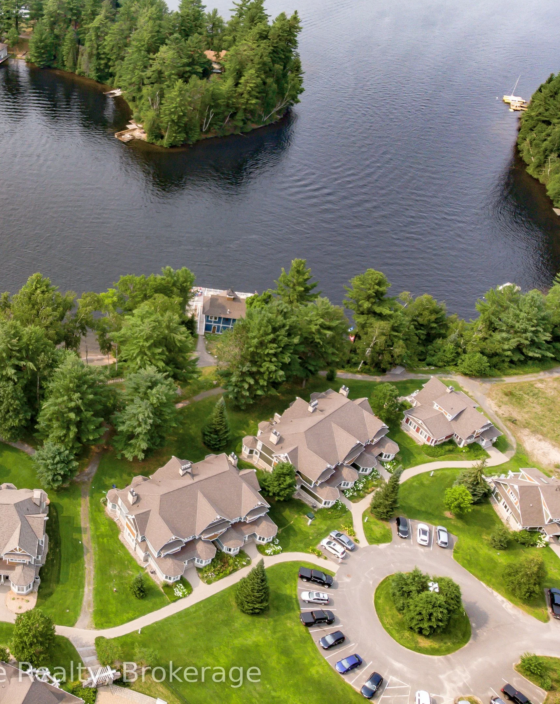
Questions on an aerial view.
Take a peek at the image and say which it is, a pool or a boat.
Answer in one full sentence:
There is a boat in the scene.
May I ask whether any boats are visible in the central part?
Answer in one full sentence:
No, no boat can be made out in the central part.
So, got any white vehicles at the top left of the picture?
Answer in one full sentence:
No, there's no white vehicle to be seen at the top left of the picture.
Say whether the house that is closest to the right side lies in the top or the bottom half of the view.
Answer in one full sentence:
The house that is closest to the right side sits in the bottom half of the picture.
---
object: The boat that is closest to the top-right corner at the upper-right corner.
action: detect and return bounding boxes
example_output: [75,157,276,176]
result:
[502,77,528,104]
